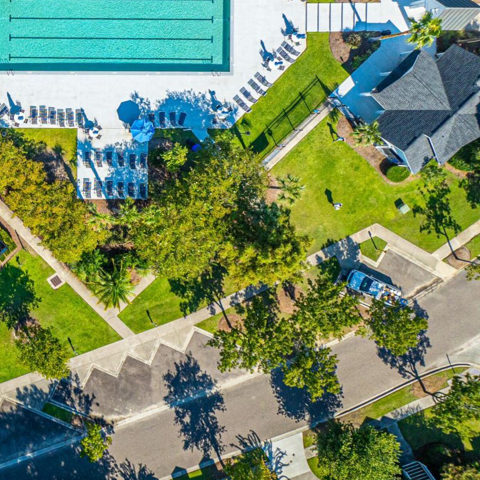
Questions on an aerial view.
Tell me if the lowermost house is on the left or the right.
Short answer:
right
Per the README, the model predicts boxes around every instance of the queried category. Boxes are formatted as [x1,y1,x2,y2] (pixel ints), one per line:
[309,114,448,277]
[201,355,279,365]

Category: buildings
[359,45,480,175]
[412,0,478,32]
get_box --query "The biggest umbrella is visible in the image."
[130,119,155,143]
